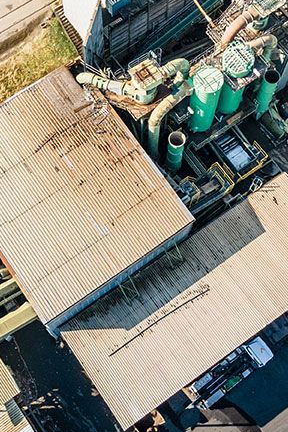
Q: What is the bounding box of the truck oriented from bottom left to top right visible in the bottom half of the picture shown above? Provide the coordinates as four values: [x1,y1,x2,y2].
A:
[188,333,278,414]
